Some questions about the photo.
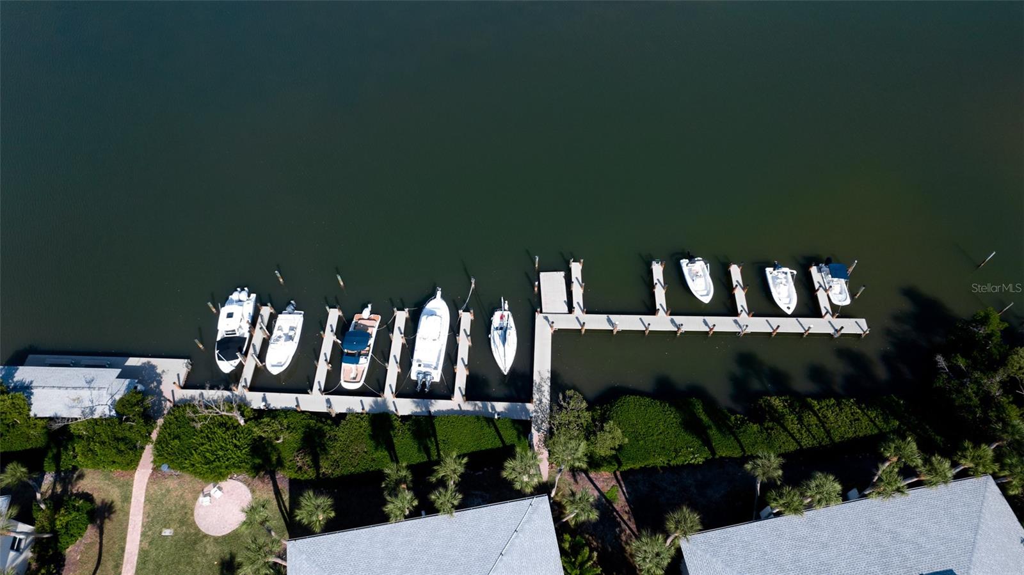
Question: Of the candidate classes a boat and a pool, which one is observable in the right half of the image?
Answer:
boat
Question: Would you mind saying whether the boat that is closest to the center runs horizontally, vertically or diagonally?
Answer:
vertically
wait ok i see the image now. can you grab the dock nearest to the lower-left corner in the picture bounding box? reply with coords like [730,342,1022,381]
[170,303,533,421]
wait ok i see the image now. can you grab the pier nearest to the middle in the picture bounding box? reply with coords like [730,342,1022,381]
[540,272,568,313]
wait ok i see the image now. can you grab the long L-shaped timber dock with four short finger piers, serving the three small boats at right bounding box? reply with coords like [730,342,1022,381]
[531,258,870,432]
